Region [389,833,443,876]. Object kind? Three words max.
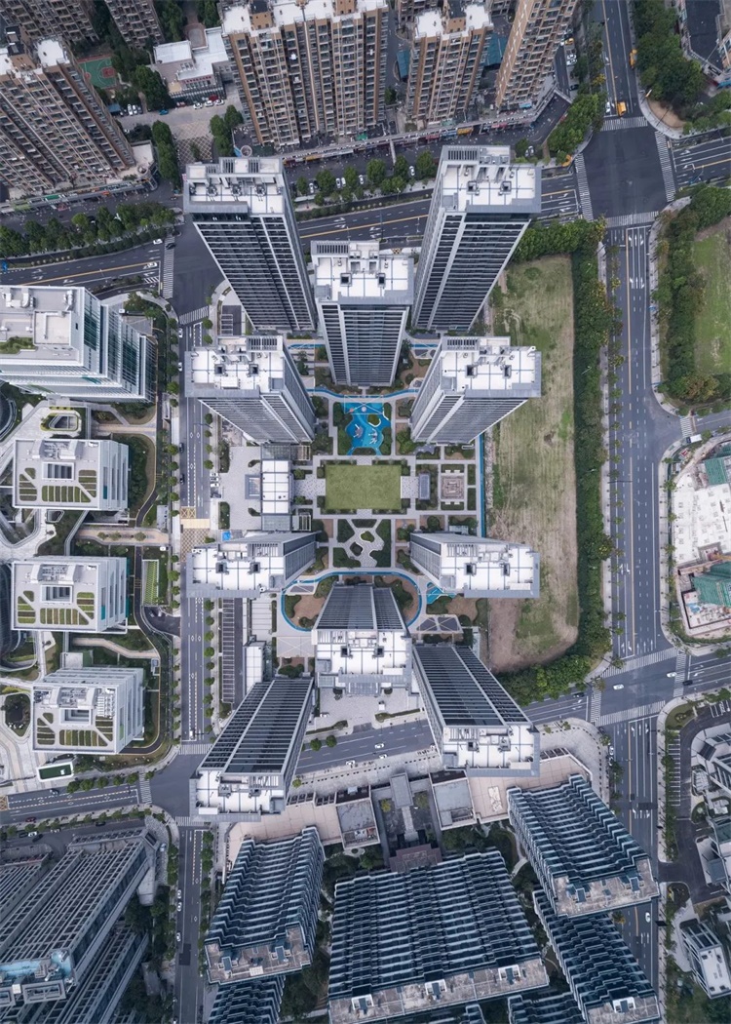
building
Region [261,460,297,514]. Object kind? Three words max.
building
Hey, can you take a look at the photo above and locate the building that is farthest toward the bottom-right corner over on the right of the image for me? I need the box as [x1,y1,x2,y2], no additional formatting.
[681,919,731,999]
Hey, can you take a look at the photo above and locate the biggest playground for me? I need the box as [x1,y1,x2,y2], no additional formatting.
[344,400,390,459]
